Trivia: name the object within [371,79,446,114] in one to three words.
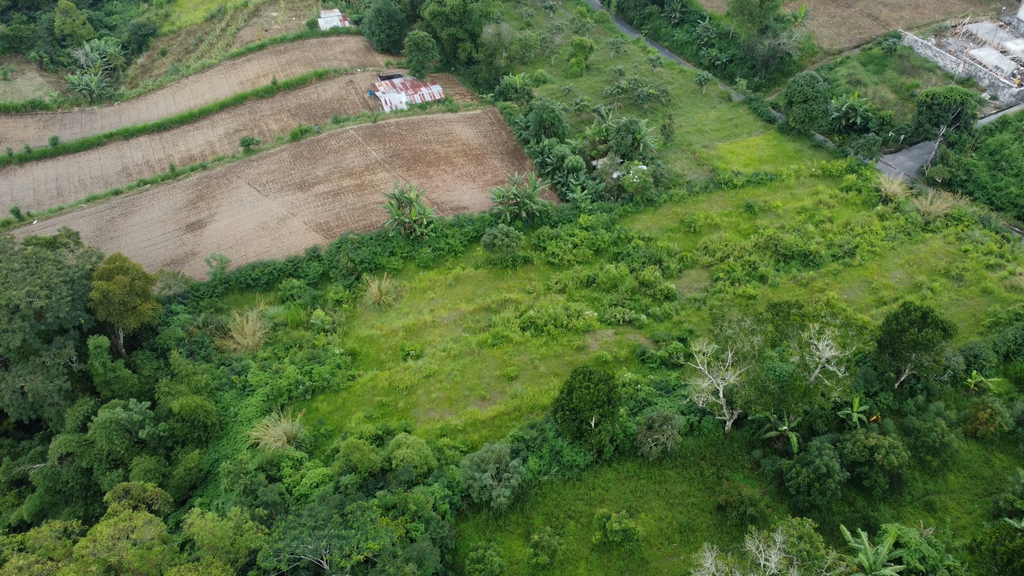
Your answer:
shed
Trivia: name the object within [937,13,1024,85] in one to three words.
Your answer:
building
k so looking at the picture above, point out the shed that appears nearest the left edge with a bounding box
[318,8,350,30]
